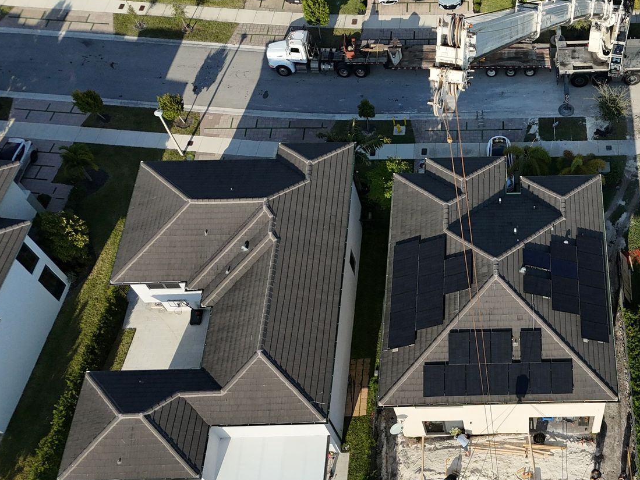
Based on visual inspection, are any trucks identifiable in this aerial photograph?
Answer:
Yes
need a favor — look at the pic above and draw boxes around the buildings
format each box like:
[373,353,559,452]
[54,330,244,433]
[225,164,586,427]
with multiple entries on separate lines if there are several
[377,154,620,436]
[57,142,364,480]
[0,159,69,427]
